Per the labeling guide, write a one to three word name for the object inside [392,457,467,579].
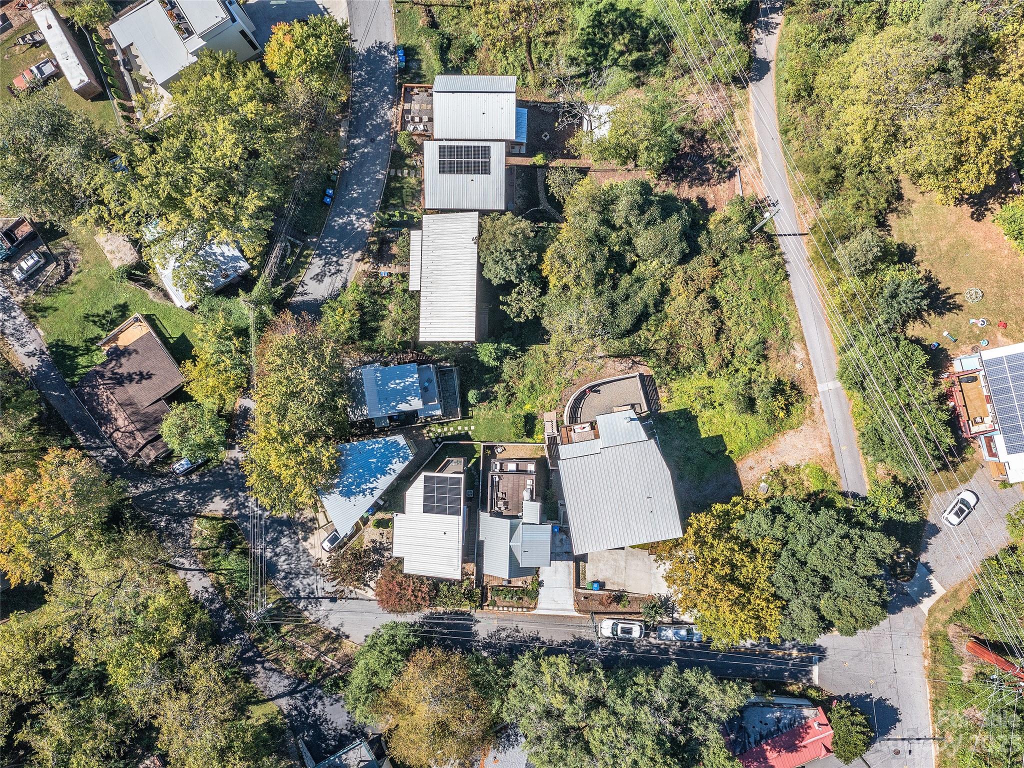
house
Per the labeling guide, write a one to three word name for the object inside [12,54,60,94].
truck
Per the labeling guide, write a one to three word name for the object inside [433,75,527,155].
house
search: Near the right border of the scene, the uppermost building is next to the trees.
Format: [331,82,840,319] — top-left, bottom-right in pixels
[918,341,1024,483]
